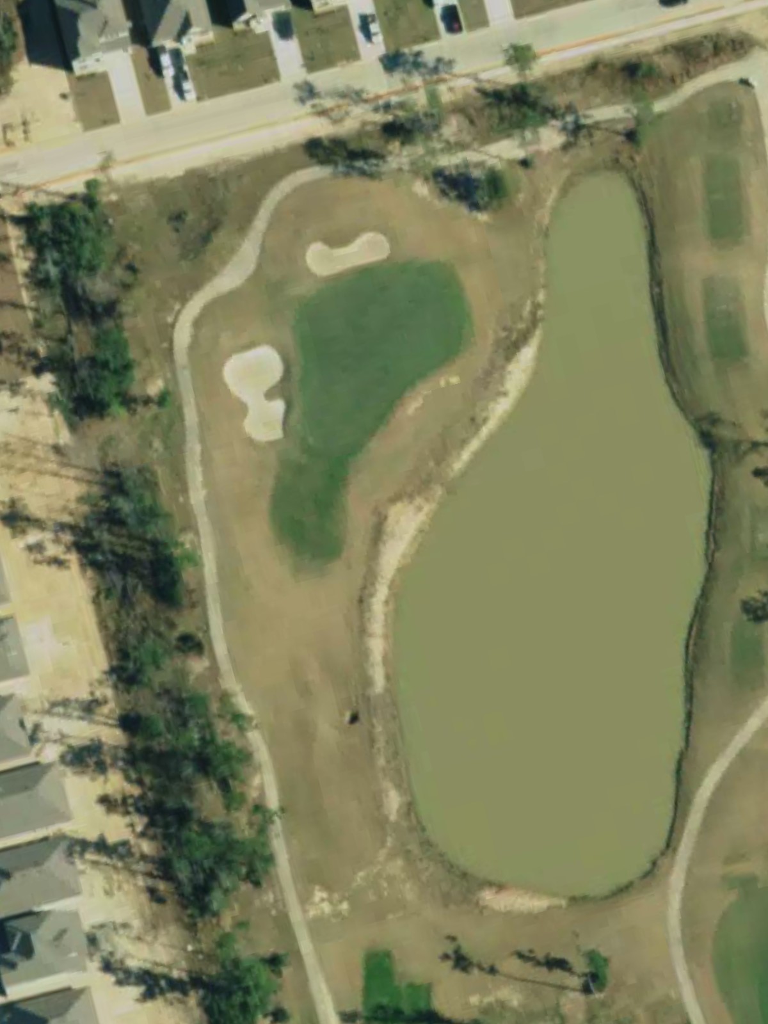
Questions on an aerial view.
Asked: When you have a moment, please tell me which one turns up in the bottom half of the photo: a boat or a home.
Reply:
home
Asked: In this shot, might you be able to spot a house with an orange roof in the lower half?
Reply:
No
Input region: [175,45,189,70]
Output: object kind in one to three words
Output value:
car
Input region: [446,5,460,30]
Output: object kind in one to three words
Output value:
car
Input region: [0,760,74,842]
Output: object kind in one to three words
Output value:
house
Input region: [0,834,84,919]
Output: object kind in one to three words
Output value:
house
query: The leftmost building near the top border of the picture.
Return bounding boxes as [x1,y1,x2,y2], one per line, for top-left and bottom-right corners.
[54,0,132,74]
